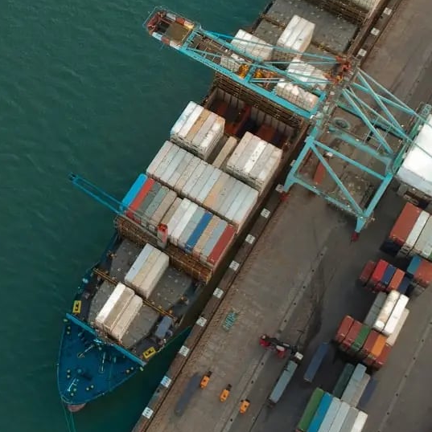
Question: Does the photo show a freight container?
Yes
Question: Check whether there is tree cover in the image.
No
